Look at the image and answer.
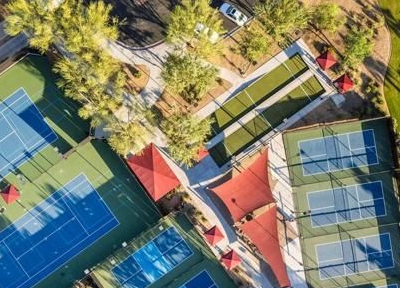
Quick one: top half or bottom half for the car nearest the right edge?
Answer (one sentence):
The top half of the photo is where the car nearest the right edge is.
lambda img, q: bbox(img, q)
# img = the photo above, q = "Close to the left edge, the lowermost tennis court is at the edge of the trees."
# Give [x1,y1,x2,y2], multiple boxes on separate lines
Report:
[0,140,155,288]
